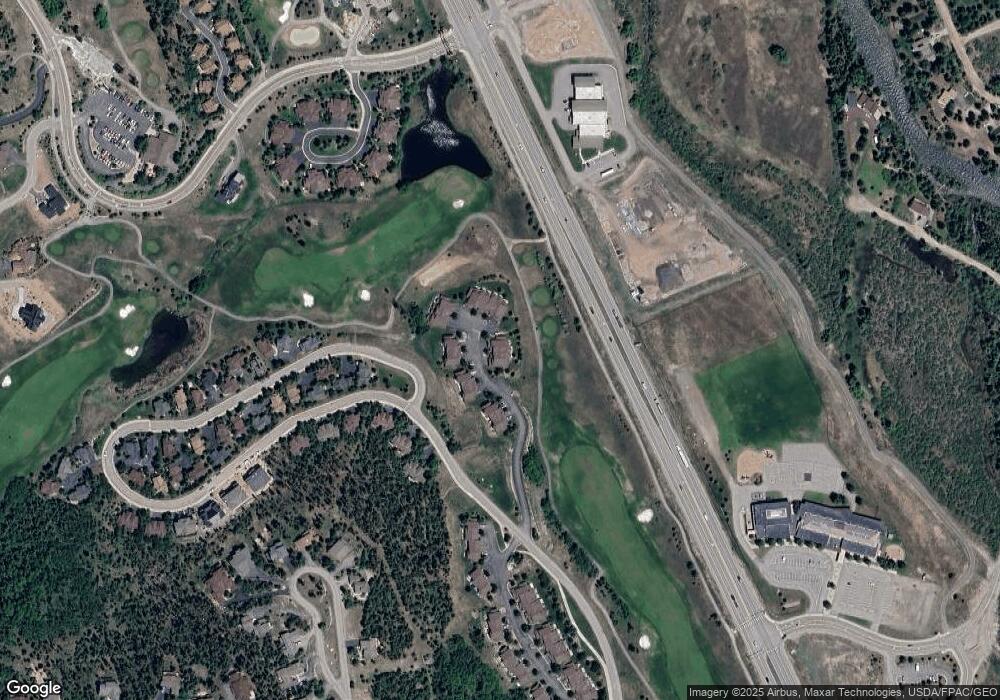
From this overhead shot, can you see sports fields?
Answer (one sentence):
Yes, a sports field can be made out from above.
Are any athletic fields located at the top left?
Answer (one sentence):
No, there is no athletic field at the top left.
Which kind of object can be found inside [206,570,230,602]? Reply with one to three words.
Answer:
house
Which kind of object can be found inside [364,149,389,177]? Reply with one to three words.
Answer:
house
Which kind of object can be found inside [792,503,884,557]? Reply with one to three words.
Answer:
building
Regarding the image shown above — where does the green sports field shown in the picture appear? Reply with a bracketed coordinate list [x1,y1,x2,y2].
[694,335,827,450]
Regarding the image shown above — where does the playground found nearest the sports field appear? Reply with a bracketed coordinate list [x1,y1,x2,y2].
[737,448,775,483]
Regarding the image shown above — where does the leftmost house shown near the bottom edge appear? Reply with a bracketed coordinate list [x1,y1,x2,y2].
[99,679,120,699]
